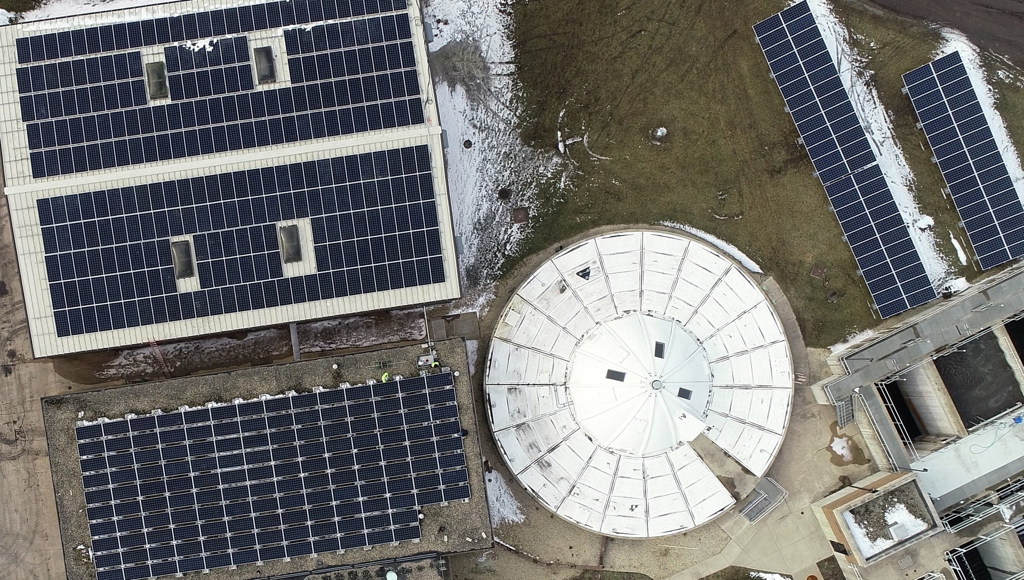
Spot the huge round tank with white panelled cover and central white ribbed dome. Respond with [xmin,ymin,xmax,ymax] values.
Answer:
[483,229,793,539]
